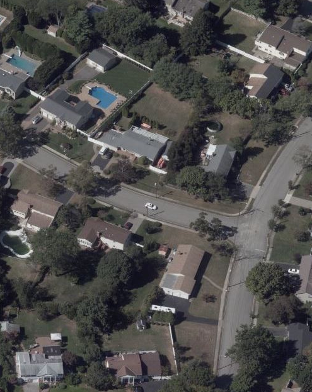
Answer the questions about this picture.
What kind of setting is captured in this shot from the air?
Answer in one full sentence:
It's a residential area.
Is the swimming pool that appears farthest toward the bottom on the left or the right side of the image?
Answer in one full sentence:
The swimming pool that appears farthest toward the bottom appears in the left half of the scene.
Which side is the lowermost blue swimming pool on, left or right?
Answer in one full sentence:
You can find the lowermost blue swimming pool on the left side of the picture.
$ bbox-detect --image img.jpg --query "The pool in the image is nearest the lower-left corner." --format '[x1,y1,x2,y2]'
[1,233,32,256]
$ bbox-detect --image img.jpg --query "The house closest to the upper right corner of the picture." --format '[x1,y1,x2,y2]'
[256,25,310,72]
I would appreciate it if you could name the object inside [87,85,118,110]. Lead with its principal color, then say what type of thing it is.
blue swimming pool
